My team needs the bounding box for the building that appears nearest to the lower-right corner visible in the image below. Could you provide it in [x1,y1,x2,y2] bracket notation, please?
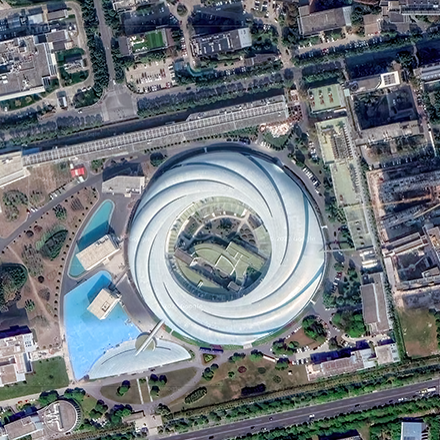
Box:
[401,422,422,440]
